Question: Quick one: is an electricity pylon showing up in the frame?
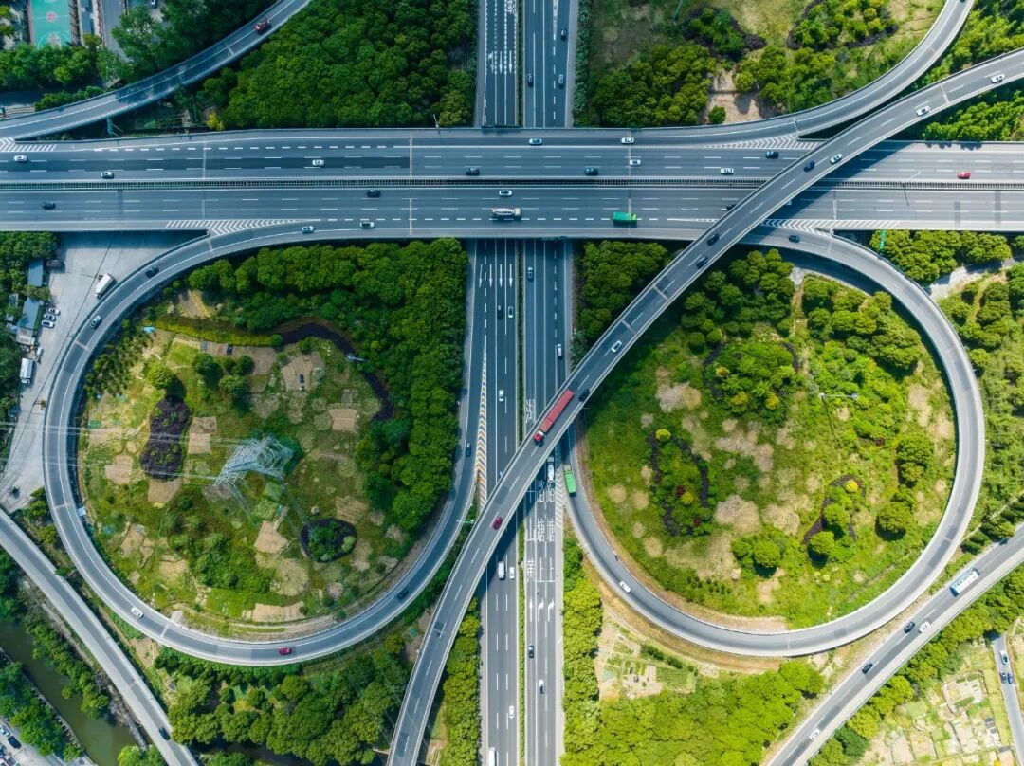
Yes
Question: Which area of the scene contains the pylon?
left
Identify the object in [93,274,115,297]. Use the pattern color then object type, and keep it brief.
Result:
white truck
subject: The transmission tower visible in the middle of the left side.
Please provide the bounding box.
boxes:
[217,434,297,492]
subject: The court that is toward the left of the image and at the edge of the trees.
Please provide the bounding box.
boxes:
[27,0,71,46]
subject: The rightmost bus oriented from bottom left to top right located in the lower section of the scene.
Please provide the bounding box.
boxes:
[950,568,981,595]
